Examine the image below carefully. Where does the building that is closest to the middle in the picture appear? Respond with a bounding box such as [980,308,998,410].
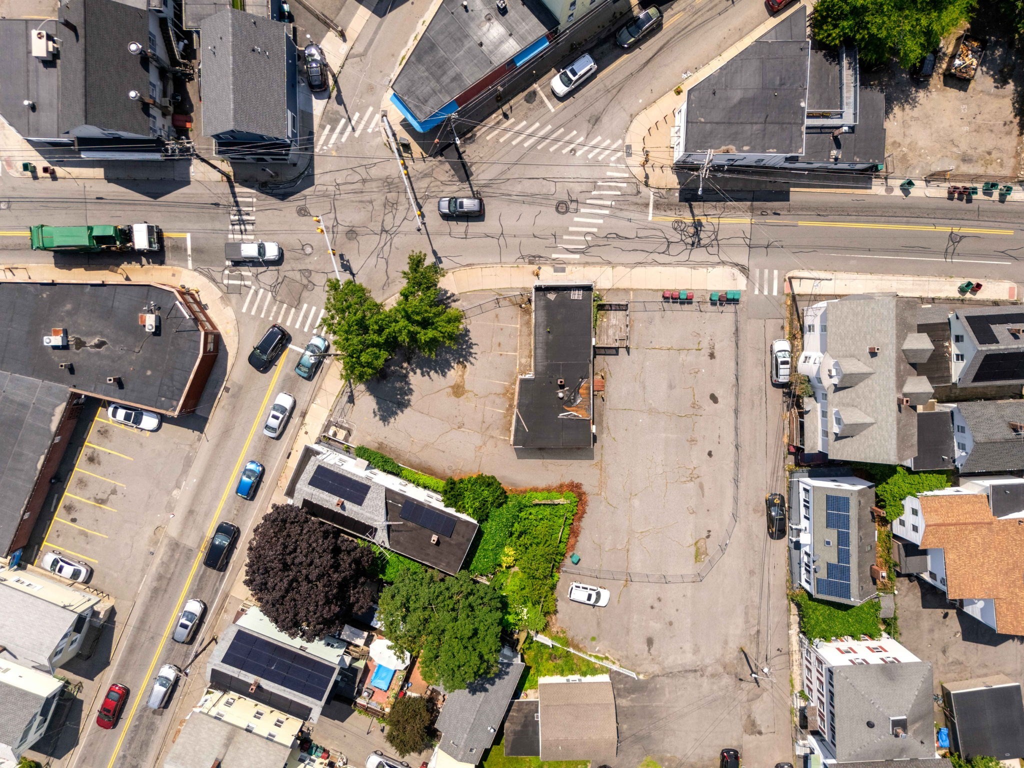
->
[513,284,596,447]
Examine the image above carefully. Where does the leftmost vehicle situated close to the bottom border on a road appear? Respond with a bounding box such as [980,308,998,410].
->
[98,678,132,730]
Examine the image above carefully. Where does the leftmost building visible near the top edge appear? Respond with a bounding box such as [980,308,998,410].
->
[0,19,77,149]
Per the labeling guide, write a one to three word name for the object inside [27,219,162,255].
truck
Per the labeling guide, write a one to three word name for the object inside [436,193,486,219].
car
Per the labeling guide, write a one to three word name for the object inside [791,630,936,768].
house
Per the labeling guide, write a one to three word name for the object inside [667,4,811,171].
building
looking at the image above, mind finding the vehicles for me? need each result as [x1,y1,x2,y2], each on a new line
[764,491,789,540]
[908,40,942,93]
[222,238,284,264]
[234,457,266,503]
[768,338,795,387]
[40,549,96,585]
[202,519,240,574]
[548,49,601,102]
[613,0,668,52]
[566,580,612,609]
[104,402,164,432]
[436,193,486,219]
[261,387,298,443]
[753,0,801,25]
[717,748,740,768]
[27,219,162,255]
[301,39,330,98]
[98,678,132,730]
[294,331,330,384]
[144,659,182,715]
[171,595,207,648]
[250,321,289,375]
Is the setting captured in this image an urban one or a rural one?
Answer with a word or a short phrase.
urban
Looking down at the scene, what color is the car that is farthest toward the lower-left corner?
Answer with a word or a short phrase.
red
